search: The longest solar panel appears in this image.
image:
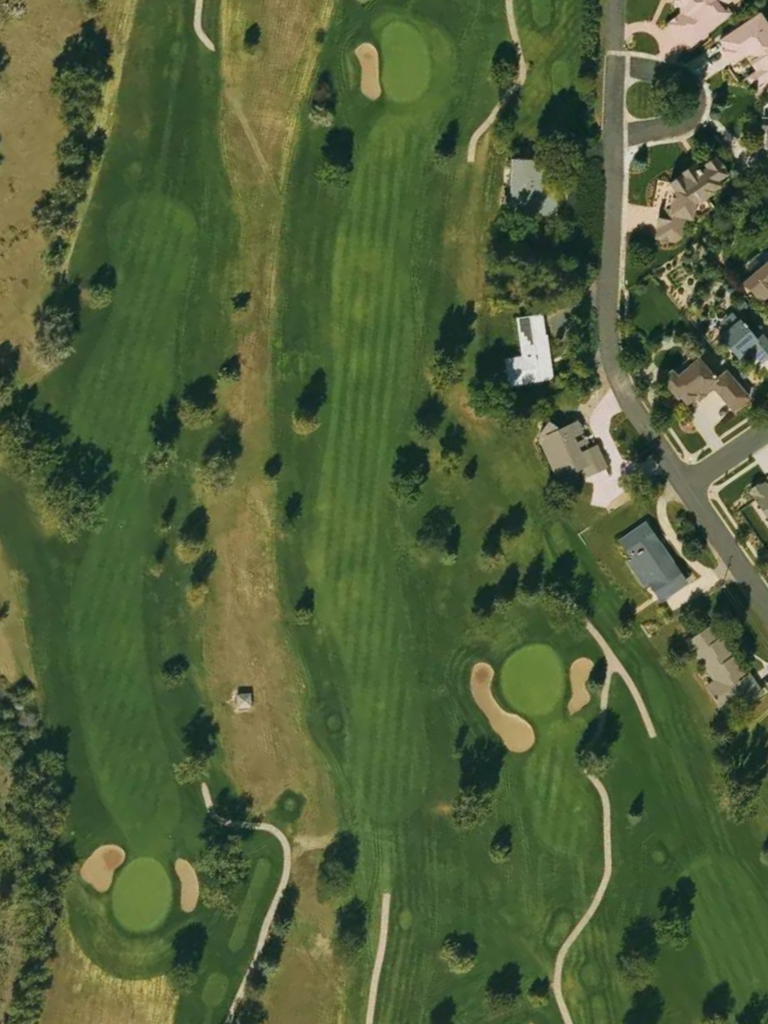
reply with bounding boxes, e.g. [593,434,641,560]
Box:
[520,319,535,344]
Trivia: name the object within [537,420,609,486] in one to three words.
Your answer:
house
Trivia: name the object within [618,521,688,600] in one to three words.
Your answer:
house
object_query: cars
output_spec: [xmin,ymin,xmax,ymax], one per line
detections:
[712,52,722,60]
[707,47,717,55]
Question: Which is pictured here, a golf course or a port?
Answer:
golf course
